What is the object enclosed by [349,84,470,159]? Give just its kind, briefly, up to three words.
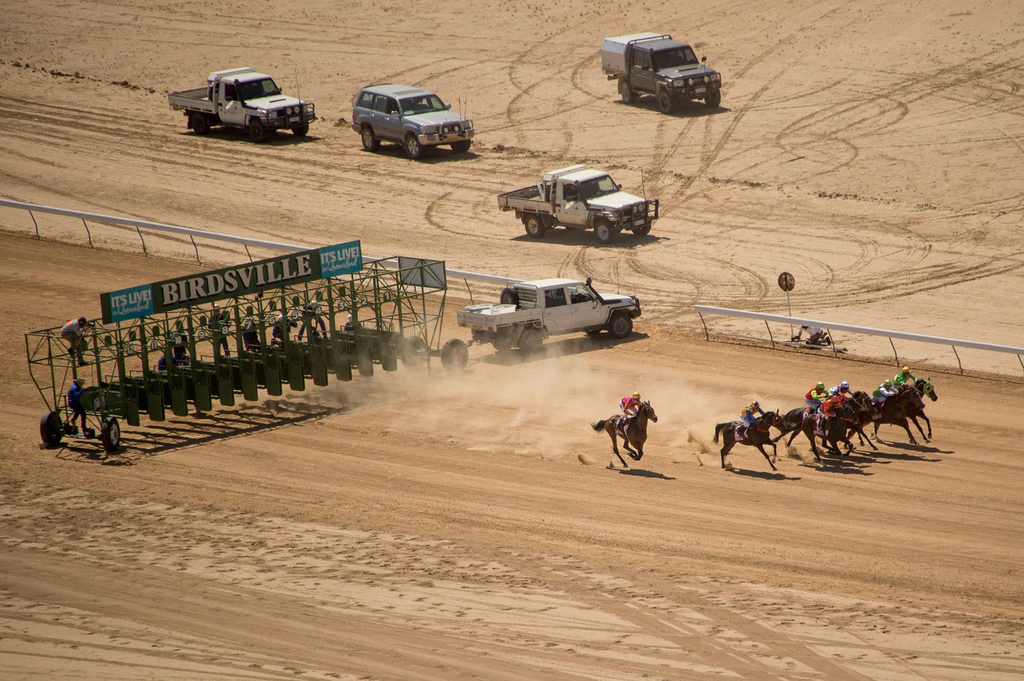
car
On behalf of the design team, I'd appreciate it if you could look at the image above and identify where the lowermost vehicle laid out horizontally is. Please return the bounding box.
[459,256,644,355]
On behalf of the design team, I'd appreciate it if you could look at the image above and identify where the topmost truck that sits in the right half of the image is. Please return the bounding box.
[603,33,721,113]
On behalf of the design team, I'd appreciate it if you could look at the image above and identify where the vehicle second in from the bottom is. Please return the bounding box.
[497,165,661,245]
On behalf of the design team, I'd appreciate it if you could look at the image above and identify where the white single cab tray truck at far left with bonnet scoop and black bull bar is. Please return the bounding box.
[171,66,309,143]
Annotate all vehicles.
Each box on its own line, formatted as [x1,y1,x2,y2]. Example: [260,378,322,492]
[171,66,309,143]
[349,84,470,159]
[497,165,661,245]
[603,33,721,113]
[459,256,644,355]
